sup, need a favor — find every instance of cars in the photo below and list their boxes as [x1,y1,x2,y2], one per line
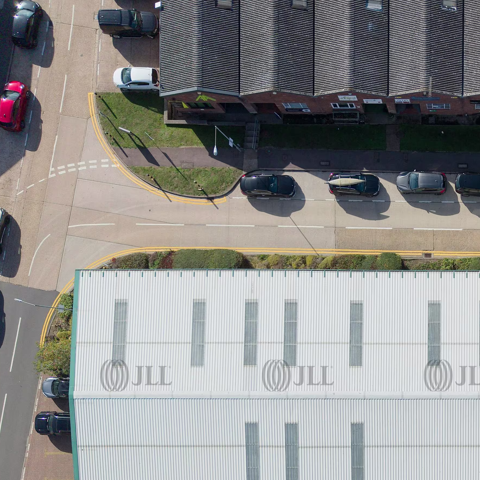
[43,374,67,401]
[10,1,45,50]
[241,172,297,200]
[93,0,158,38]
[0,80,30,133]
[329,168,382,198]
[397,167,448,196]
[114,64,158,92]
[455,173,480,198]
[35,409,69,438]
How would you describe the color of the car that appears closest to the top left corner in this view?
black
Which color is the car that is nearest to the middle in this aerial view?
black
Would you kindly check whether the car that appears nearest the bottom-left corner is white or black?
black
